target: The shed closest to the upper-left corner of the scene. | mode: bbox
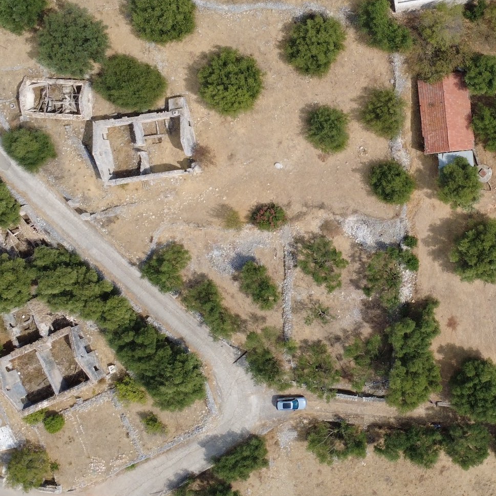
[19,77,99,120]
